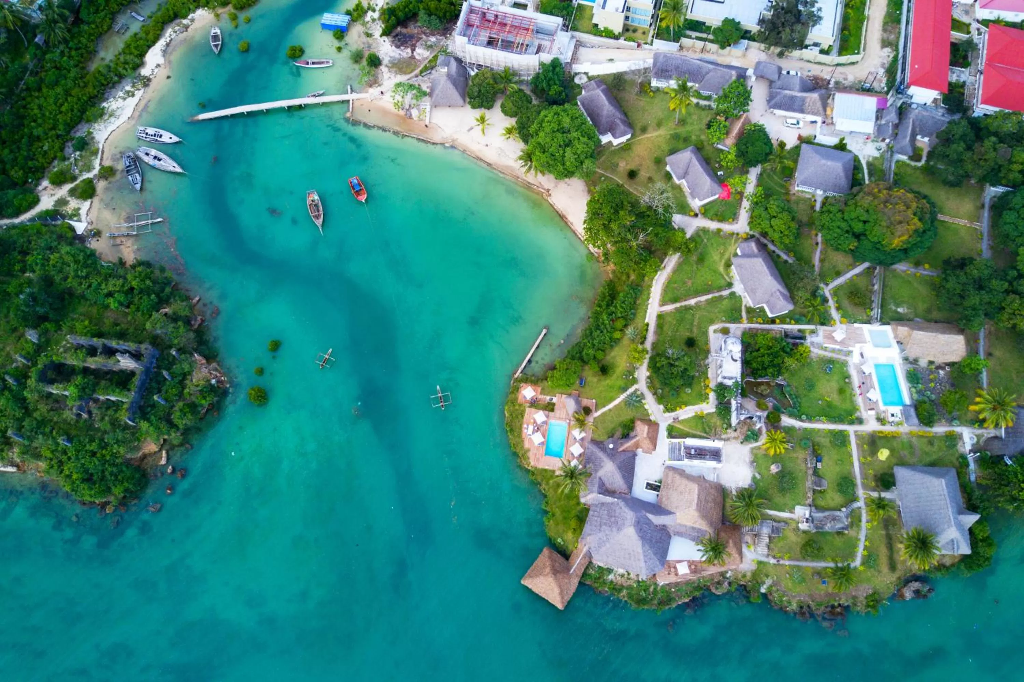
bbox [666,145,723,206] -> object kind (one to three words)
house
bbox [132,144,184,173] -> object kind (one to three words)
boat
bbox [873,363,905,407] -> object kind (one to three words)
swimming pool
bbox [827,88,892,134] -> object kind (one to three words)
shed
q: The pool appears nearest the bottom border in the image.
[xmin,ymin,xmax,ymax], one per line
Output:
[543,420,570,459]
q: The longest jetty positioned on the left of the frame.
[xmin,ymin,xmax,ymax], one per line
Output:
[191,94,369,125]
